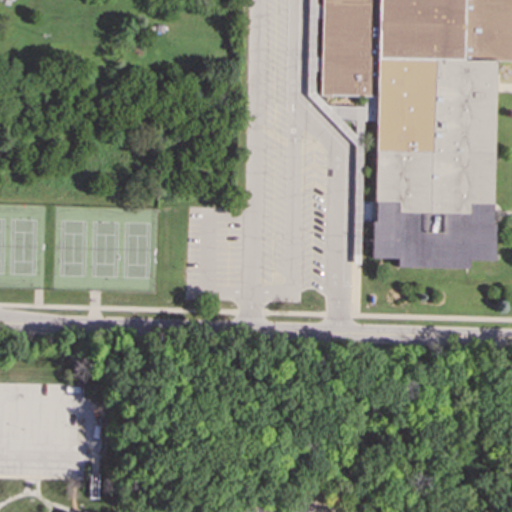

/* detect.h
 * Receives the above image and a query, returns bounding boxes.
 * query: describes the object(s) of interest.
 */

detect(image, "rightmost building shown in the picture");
[372,0,512,273]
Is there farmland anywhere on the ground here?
No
